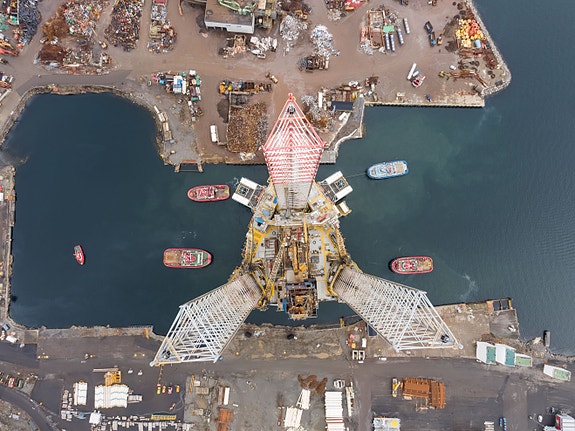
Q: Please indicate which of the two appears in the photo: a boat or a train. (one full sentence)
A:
The image shows a boat.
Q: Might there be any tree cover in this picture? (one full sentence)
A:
No, no tree cover is visible.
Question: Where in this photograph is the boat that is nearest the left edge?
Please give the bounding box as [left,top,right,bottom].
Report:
[70,245,84,265]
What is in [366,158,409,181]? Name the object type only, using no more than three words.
boat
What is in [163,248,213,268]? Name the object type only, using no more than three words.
boat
